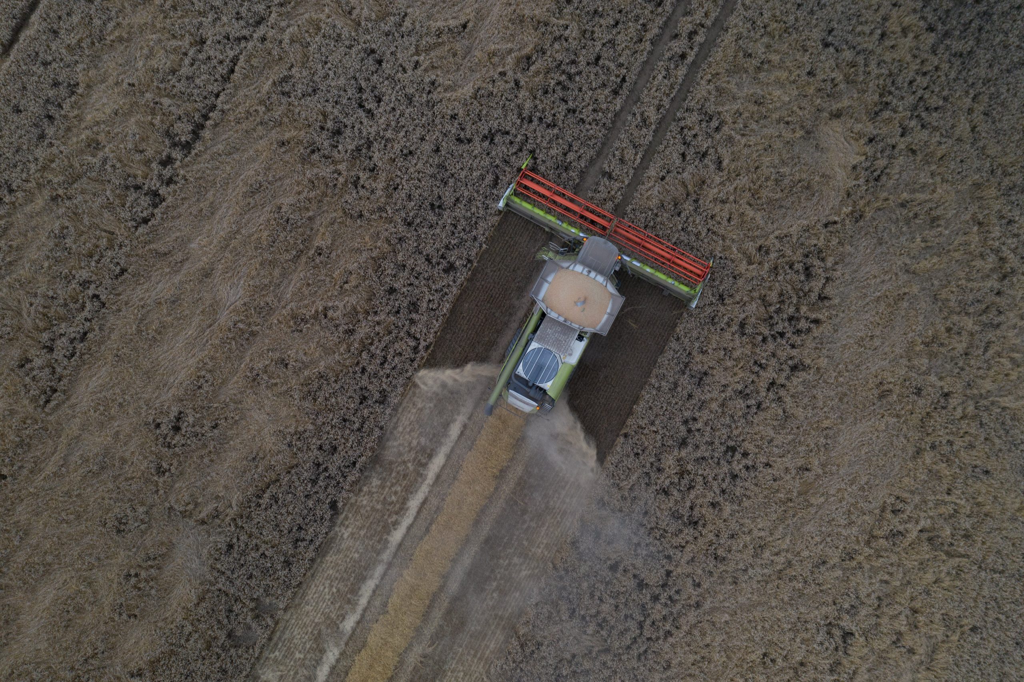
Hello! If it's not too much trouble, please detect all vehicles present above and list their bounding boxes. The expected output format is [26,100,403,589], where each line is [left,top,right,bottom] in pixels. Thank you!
[485,155,714,421]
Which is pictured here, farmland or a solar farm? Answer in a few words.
farmland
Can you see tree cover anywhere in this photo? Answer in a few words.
No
